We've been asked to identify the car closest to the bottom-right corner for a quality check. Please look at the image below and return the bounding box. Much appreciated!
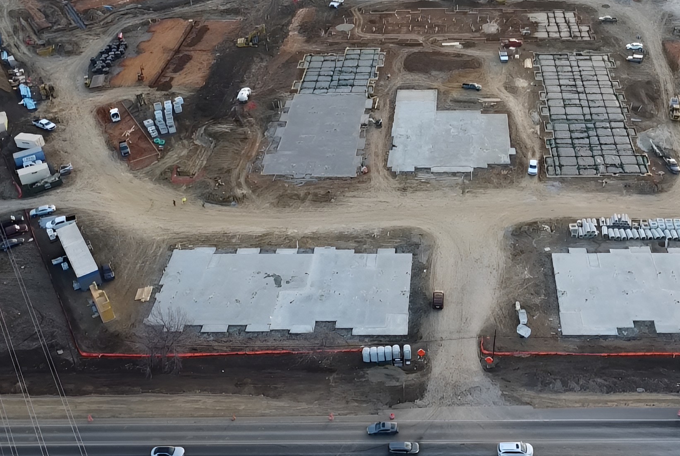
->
[497,439,533,456]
